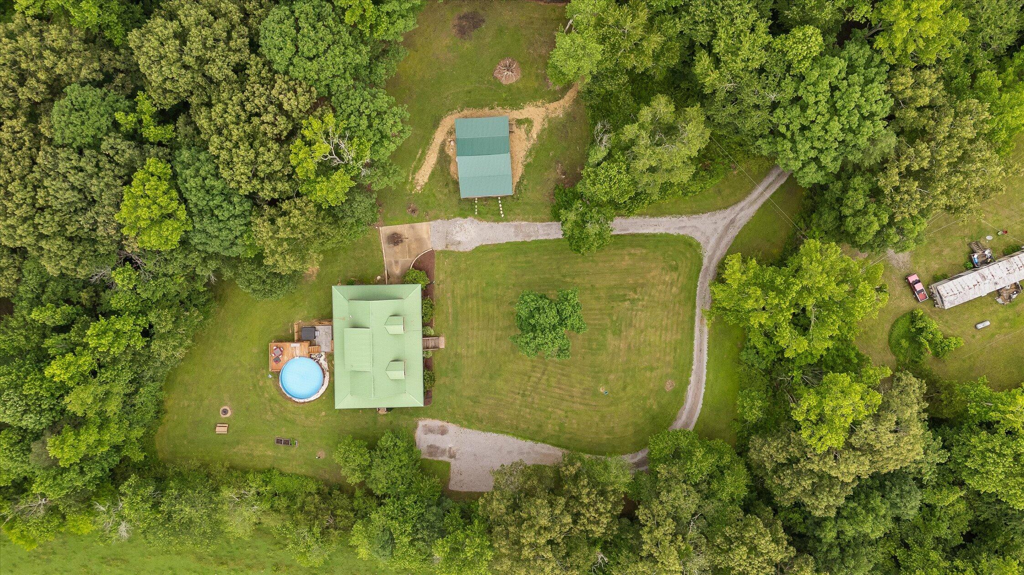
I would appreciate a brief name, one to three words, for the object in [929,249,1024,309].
house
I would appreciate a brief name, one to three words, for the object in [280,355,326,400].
swimming pool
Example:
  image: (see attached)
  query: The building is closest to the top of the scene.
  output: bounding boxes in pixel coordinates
[456,116,513,199]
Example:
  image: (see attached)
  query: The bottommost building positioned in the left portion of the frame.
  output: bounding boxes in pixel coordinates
[332,284,424,409]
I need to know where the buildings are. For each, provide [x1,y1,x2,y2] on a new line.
[929,249,1024,309]
[456,116,513,199]
[332,284,424,409]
